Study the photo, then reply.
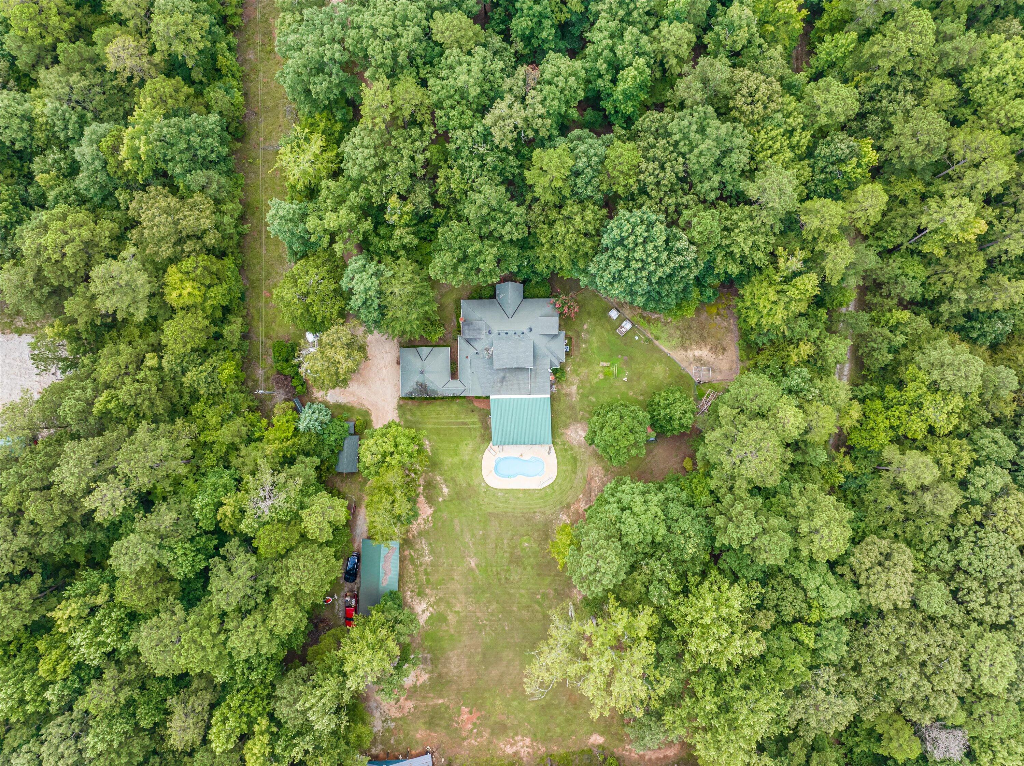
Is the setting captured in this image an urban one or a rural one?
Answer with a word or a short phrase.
rural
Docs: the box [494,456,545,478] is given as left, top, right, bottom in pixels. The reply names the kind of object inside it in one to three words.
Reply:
swimming pool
